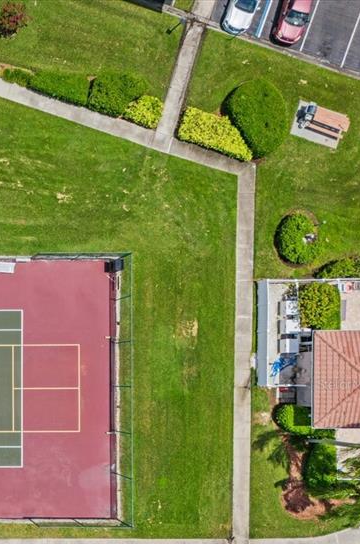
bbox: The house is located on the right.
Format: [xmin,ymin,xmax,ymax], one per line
[298,329,360,431]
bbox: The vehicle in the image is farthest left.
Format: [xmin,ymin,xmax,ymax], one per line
[220,0,259,35]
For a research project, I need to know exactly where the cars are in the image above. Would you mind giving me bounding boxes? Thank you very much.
[273,0,317,48]
[220,0,259,35]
